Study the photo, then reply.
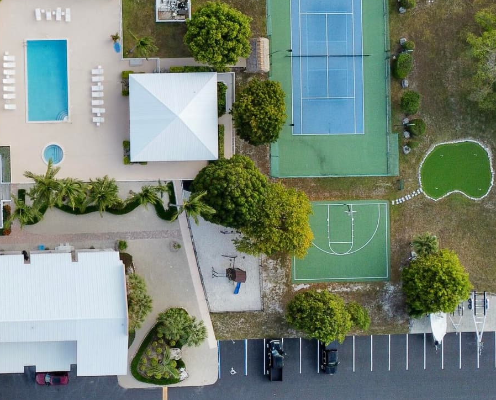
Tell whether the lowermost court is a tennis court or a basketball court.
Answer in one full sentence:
The lowermost court is a basketball court.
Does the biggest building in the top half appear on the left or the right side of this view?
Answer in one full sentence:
You can find the biggest building in the top half on the left side of the picture.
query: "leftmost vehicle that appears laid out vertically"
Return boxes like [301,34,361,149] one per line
[267,339,285,380]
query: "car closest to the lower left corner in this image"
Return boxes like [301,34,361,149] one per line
[35,371,68,387]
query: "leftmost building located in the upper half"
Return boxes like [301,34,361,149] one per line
[128,72,218,161]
